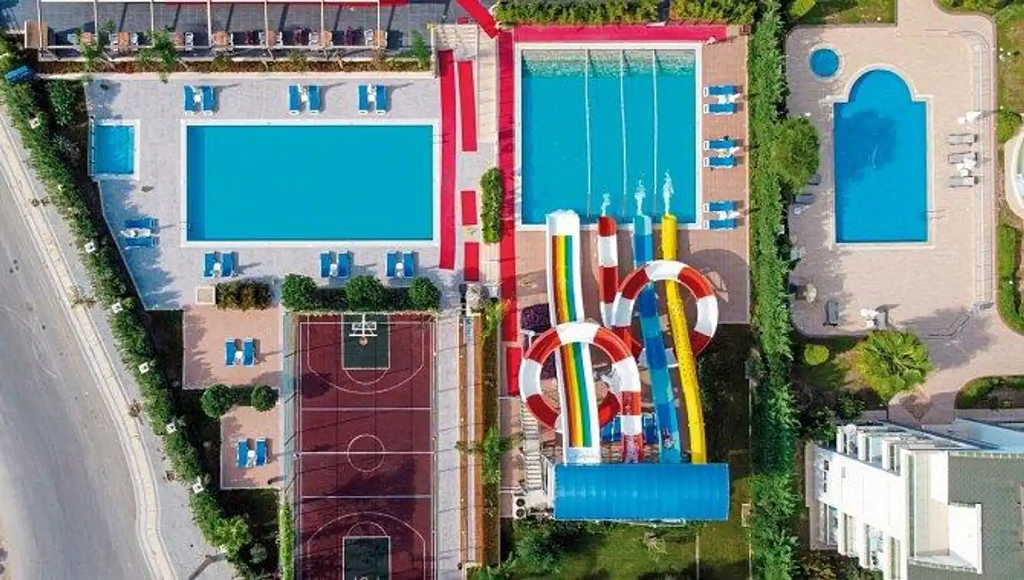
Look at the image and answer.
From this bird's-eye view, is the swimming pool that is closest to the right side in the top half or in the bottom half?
top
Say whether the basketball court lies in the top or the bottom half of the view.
bottom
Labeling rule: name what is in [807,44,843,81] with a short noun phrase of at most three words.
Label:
swimming pool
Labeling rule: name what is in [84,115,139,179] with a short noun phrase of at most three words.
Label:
swimming pool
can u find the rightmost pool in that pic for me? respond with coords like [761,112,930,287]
[1003,124,1024,219]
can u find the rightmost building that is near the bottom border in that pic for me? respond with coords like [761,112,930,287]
[815,417,1024,580]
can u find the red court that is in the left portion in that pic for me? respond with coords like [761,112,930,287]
[294,314,436,580]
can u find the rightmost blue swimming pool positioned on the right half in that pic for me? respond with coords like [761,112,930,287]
[829,63,939,249]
